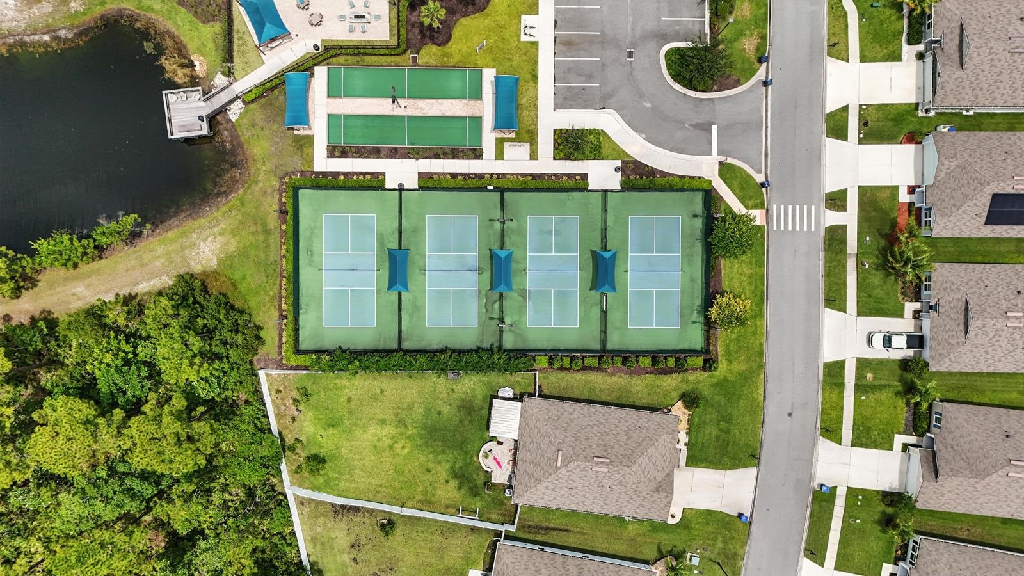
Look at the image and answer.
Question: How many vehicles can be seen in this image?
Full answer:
The count comes to 1 vehicle.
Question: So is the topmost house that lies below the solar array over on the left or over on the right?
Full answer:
The topmost house that lies below the solar array is on the right side of the image.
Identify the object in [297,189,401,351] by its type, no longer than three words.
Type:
sports court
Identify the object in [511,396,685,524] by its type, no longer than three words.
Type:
house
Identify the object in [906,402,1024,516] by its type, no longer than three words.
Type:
house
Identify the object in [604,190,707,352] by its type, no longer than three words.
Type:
sports court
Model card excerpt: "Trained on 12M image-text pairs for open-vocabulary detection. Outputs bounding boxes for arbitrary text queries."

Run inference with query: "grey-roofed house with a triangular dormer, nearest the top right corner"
[921,0,1024,113]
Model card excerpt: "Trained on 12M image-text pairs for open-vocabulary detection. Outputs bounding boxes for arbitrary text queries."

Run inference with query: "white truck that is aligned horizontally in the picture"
[870,330,925,352]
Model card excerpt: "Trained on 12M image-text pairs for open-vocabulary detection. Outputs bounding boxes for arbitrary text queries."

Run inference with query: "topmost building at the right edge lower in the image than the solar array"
[913,262,1024,373]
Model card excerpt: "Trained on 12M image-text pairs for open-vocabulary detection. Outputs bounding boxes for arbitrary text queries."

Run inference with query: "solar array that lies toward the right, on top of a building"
[985,193,1024,225]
